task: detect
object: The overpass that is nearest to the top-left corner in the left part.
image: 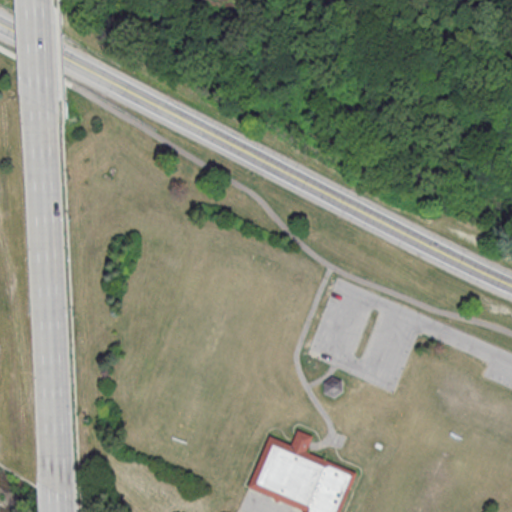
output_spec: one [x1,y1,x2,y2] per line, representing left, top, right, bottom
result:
[13,4,68,116]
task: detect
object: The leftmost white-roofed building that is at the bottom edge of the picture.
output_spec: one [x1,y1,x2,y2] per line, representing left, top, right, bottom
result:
[248,430,357,512]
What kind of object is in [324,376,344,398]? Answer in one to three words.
building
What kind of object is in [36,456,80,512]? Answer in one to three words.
bridge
